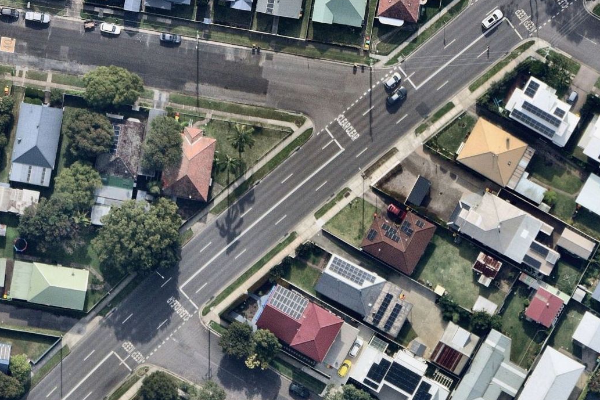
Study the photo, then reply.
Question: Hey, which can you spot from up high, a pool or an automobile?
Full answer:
This aerial view contains an automobile.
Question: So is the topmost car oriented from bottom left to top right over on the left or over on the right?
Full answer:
The topmost car oriented from bottom left to top right appears in the right half of the scene.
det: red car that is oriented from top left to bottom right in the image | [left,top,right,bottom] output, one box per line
[388,203,406,220]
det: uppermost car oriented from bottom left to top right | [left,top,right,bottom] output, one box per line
[482,9,504,28]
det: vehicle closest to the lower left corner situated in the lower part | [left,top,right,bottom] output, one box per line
[287,383,310,397]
